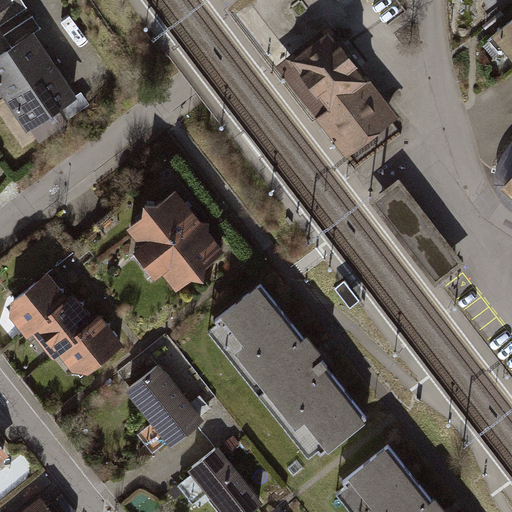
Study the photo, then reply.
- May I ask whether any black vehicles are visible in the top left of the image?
No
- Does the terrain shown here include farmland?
No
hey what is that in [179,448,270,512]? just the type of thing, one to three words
house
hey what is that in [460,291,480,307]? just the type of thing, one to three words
car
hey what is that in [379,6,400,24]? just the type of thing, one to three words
car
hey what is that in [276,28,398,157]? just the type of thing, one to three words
building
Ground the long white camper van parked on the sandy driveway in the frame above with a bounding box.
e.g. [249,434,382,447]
[61,17,88,47]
